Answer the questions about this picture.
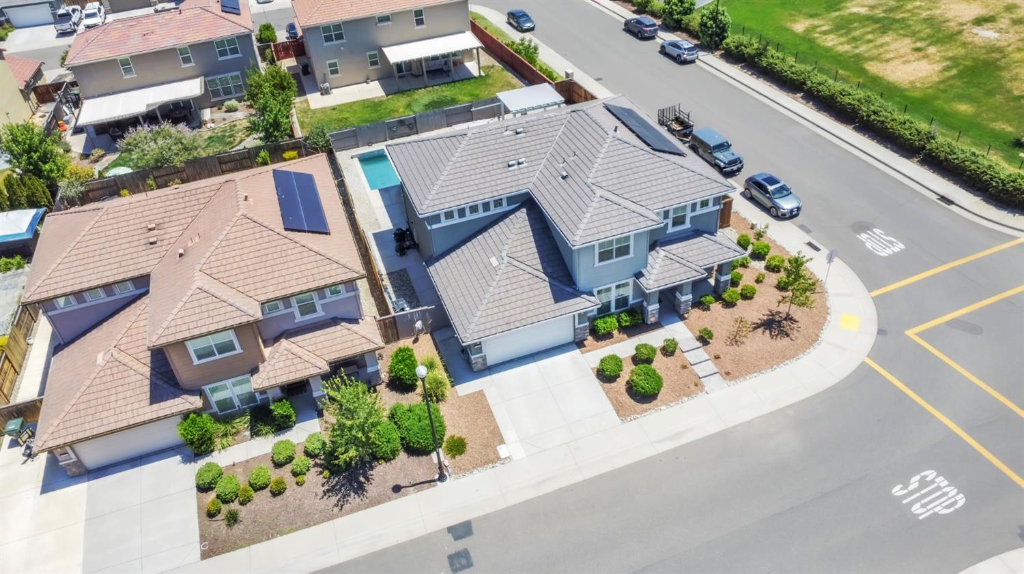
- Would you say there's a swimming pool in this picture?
Yes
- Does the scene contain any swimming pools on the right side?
No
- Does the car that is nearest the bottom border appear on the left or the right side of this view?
right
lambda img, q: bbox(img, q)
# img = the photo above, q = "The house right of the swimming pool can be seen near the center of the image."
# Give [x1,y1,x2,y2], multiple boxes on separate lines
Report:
[385,91,750,373]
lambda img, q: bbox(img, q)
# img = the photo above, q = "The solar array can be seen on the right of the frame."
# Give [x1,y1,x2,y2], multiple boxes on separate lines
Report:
[601,102,688,157]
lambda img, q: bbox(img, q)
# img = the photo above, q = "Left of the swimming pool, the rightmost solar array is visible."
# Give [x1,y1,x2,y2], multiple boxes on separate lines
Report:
[272,169,330,235]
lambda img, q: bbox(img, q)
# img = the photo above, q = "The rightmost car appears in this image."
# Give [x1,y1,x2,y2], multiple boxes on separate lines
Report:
[743,171,803,220]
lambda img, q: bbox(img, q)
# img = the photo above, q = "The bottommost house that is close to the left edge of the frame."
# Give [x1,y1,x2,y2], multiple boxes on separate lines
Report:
[20,152,386,479]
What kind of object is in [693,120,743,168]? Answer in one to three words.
vehicle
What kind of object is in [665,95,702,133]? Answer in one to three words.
trailer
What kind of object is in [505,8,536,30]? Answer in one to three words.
car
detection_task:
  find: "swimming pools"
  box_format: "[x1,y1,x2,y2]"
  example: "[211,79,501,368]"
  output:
[347,139,402,191]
